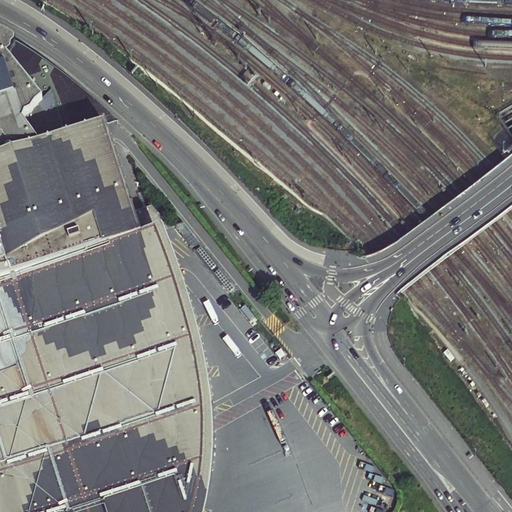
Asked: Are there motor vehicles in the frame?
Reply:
Yes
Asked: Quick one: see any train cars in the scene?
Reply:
Yes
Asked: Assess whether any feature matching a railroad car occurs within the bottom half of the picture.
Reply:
No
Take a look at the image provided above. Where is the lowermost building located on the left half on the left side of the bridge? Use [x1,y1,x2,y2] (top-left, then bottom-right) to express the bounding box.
[0,205,215,512]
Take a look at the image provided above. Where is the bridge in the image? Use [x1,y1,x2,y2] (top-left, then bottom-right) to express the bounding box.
[365,155,512,294]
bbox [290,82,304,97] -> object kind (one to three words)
rail car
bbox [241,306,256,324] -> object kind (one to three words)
vehicle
